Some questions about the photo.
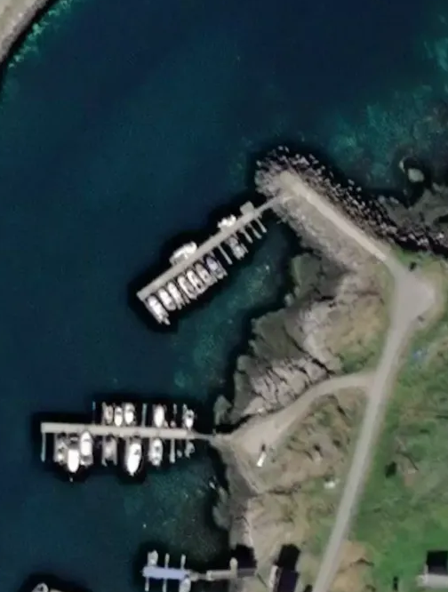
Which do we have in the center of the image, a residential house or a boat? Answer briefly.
boat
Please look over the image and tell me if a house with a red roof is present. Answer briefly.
No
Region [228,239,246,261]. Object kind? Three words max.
boat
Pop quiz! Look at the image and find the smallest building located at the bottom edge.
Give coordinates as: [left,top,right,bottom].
[238,561,256,578]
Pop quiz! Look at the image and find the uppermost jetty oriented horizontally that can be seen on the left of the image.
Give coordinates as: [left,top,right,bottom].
[41,402,221,466]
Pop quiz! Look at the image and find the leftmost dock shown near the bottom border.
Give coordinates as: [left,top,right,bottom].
[143,553,206,592]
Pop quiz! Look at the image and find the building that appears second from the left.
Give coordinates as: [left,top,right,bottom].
[272,568,299,592]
